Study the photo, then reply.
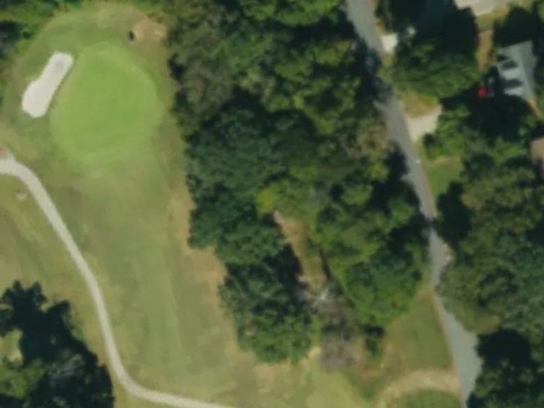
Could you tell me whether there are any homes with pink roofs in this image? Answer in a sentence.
No, I can't see a single home with a pink roof in this photo.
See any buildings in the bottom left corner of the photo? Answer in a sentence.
No, no building can be made out in the bottom left corner of the photo.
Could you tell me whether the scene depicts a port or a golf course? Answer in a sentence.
The picture captures a golf course.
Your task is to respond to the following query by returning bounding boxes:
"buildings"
[529,138,544,171]
[496,39,541,100]
[444,0,523,22]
